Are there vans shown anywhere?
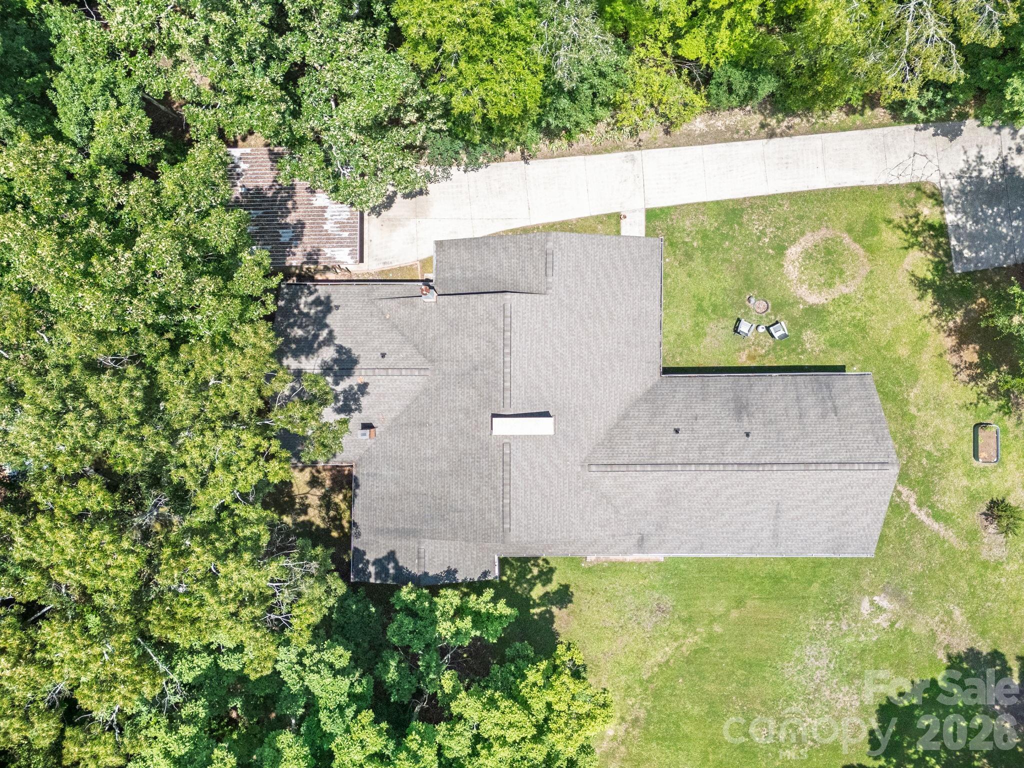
No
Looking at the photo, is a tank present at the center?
No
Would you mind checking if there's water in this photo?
No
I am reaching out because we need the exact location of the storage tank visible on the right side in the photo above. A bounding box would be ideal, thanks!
[971,423,999,462]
